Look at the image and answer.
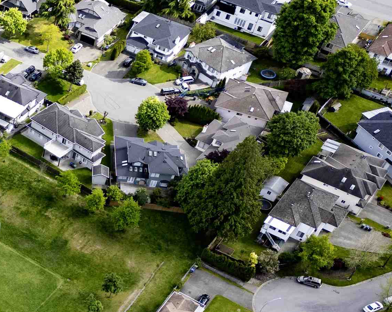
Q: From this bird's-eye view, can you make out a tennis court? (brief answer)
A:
No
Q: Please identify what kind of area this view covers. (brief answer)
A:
residential area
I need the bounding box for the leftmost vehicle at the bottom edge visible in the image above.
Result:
[196,292,214,306]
